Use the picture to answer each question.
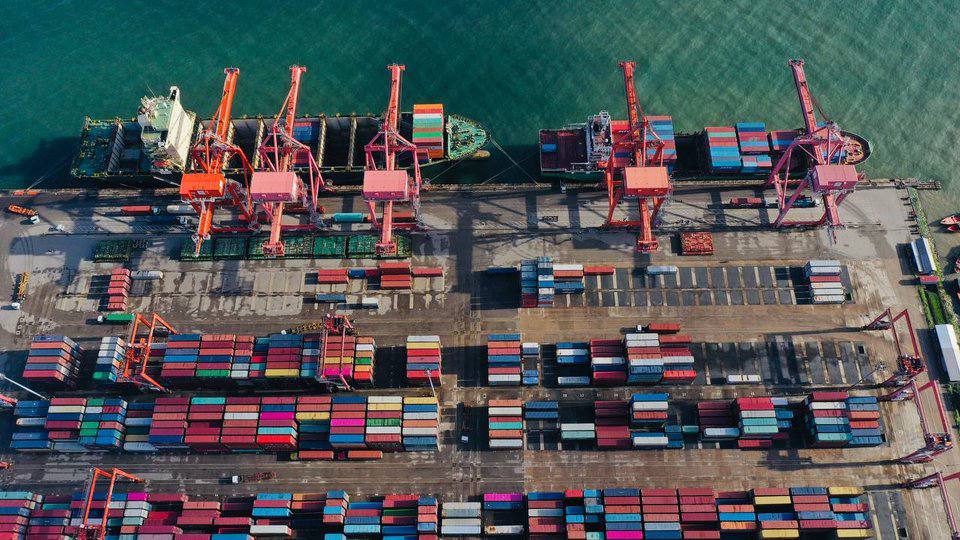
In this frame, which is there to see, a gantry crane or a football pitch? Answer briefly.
gantry crane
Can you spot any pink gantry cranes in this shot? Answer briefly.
Yes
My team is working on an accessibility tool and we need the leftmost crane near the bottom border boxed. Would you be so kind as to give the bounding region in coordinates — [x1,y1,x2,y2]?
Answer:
[73,467,150,540]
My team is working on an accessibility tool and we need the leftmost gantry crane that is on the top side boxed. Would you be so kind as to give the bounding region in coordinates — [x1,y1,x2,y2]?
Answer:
[172,64,267,252]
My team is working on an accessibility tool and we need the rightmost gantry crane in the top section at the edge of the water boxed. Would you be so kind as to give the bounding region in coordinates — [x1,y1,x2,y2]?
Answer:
[764,60,871,248]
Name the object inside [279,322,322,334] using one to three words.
vehicle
